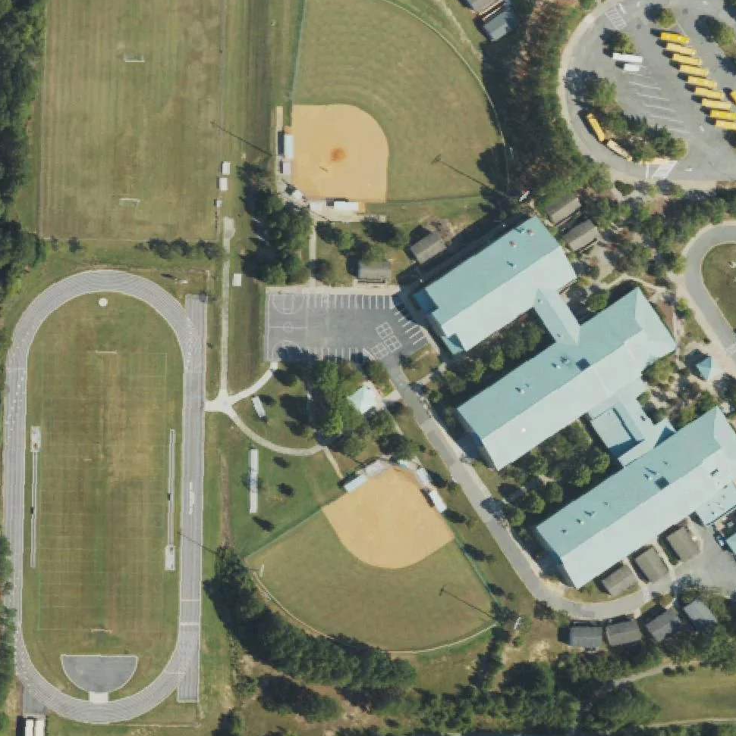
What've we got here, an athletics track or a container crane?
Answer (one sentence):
The image shows an athletics track.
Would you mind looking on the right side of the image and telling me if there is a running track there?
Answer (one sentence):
No, there's no running track to be seen on the right side of the image.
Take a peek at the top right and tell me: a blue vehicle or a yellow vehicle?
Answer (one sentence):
It is a yellow vehicle that can be seen at the top right.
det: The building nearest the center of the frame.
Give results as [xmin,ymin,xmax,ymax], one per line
[350,382,382,412]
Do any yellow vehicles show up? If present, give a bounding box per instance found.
[584,113,603,141]
[713,120,736,129]
[709,109,736,120]
[728,88,736,104]
[693,87,723,98]
[677,64,708,75]
[665,43,695,53]
[685,76,716,87]
[699,97,730,108]
[671,53,702,64]
[658,32,689,43]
